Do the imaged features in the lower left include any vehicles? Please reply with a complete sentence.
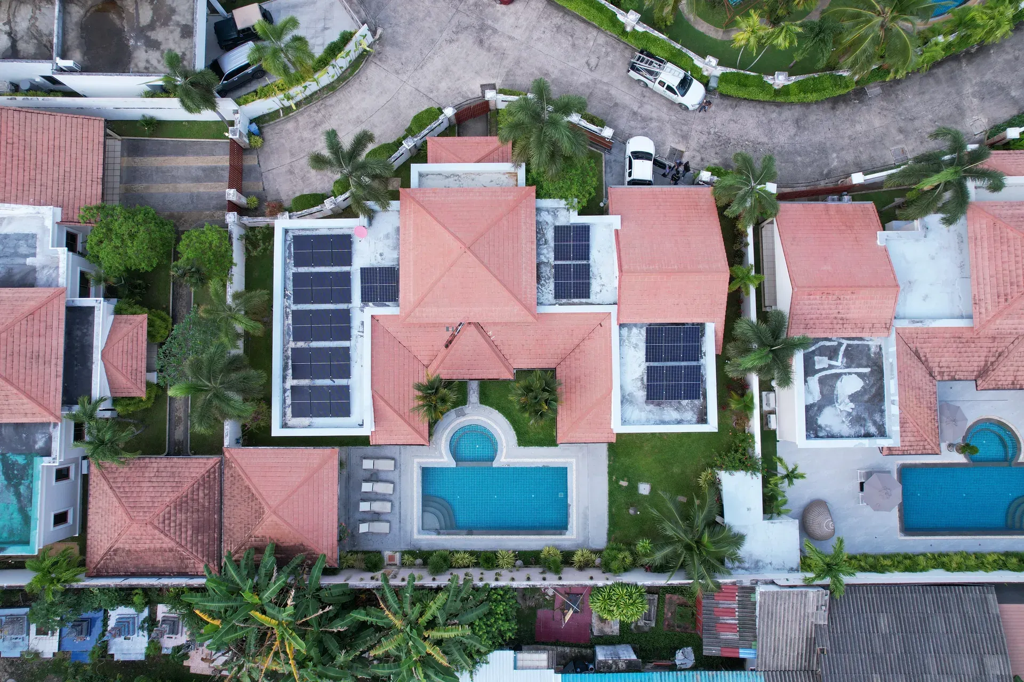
No, in the lower left there is no vehicle.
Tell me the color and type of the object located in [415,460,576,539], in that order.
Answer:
blue swimming pool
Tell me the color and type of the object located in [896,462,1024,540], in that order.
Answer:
blue swimming pool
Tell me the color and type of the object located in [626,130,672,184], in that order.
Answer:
white truck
